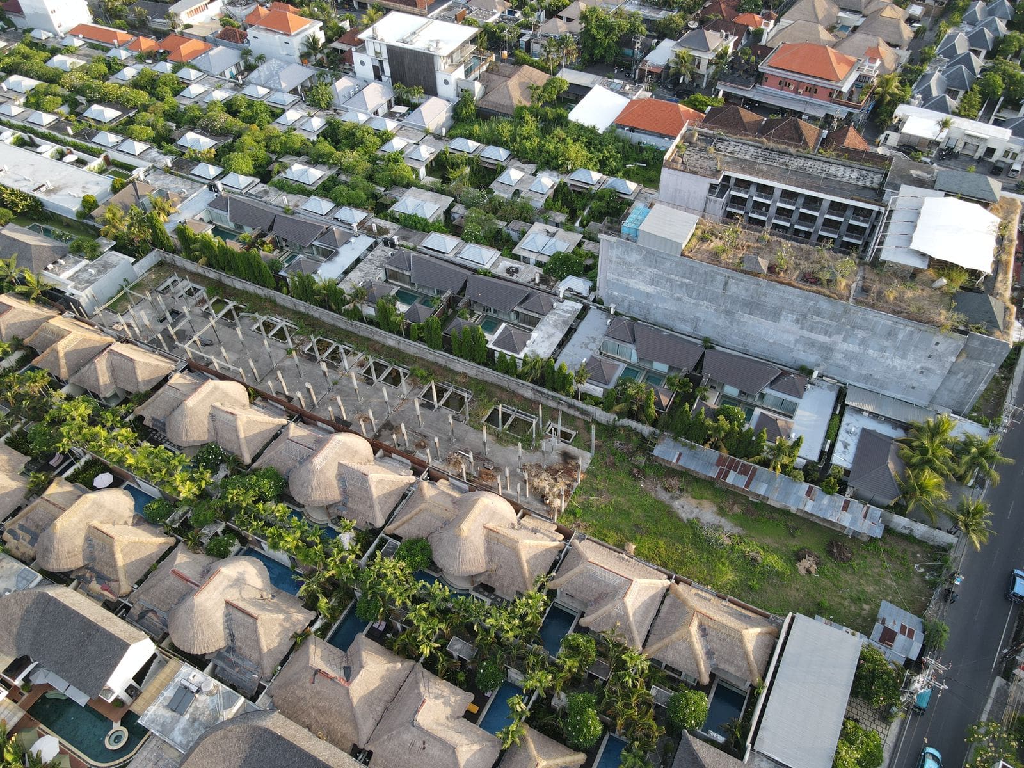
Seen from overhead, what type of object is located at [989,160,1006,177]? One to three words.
car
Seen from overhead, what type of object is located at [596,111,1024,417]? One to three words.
building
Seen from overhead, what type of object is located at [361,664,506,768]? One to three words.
house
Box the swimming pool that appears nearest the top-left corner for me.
[26,220,80,244]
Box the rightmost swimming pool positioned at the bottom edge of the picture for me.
[701,679,752,744]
